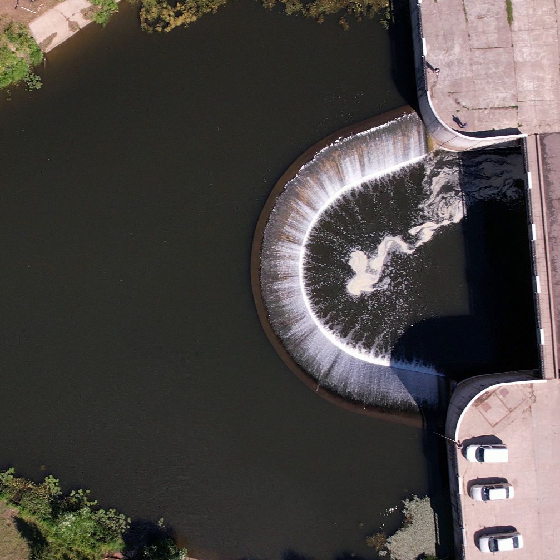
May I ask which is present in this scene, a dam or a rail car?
dam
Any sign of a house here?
No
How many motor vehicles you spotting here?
3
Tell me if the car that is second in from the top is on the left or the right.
right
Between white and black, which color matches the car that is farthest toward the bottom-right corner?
white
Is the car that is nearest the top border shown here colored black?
No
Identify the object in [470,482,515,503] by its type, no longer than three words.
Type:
car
